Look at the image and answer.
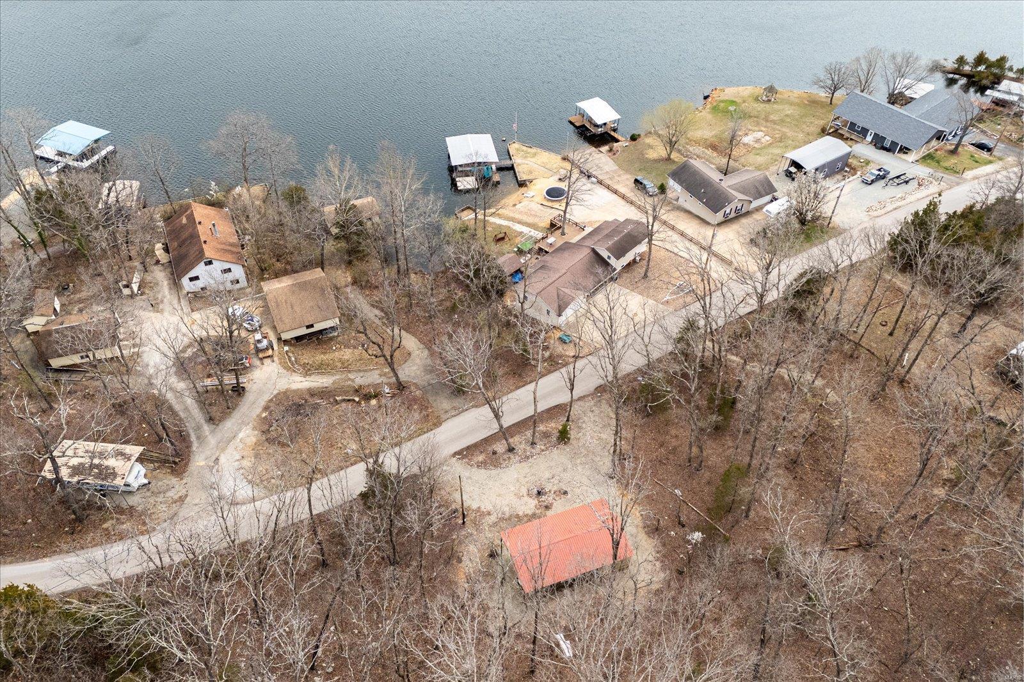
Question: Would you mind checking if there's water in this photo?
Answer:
Yes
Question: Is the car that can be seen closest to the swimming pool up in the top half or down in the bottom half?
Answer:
top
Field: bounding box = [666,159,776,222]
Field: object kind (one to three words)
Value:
house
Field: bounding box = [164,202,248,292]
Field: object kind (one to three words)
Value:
house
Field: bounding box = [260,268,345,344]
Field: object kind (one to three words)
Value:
building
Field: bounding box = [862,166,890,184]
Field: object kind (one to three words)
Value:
vehicle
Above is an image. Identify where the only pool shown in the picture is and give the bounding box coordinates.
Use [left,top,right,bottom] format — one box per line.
[544,181,570,200]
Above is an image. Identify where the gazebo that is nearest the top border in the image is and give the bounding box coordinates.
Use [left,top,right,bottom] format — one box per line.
[759,79,781,99]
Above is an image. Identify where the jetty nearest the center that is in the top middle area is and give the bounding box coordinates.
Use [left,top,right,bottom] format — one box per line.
[445,132,515,184]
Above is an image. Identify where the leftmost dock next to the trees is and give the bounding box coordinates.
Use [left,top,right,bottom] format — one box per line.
[35,120,117,175]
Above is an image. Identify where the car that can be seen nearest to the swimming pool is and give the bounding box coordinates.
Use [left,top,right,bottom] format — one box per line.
[634,174,657,196]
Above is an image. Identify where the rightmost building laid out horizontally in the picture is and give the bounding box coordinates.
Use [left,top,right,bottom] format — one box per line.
[827,87,980,164]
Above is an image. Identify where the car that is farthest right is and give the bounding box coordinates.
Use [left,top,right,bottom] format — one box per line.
[969,138,997,153]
